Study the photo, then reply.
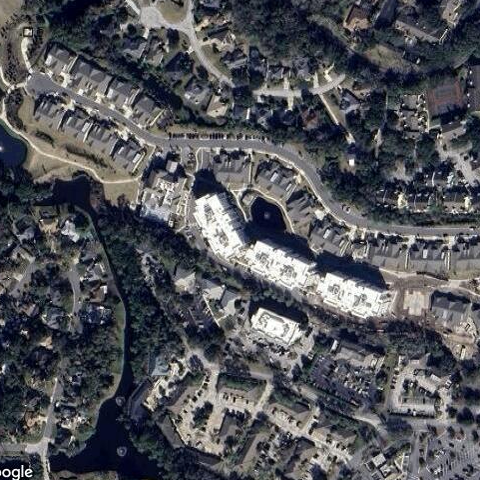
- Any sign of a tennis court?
Yes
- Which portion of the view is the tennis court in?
top right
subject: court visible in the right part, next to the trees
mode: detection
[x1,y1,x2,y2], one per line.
[426,80,465,114]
